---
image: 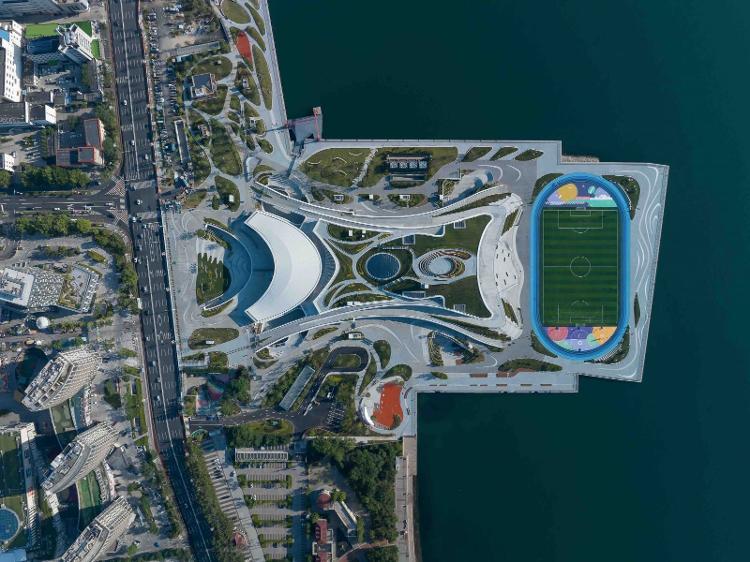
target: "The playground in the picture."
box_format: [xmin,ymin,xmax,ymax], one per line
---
[362,377,409,432]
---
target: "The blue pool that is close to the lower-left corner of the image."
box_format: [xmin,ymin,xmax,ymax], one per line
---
[0,506,21,547]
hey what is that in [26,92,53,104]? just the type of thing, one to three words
shed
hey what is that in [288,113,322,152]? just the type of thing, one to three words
pier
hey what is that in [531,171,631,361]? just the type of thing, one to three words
sports field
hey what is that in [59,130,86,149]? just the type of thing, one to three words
building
